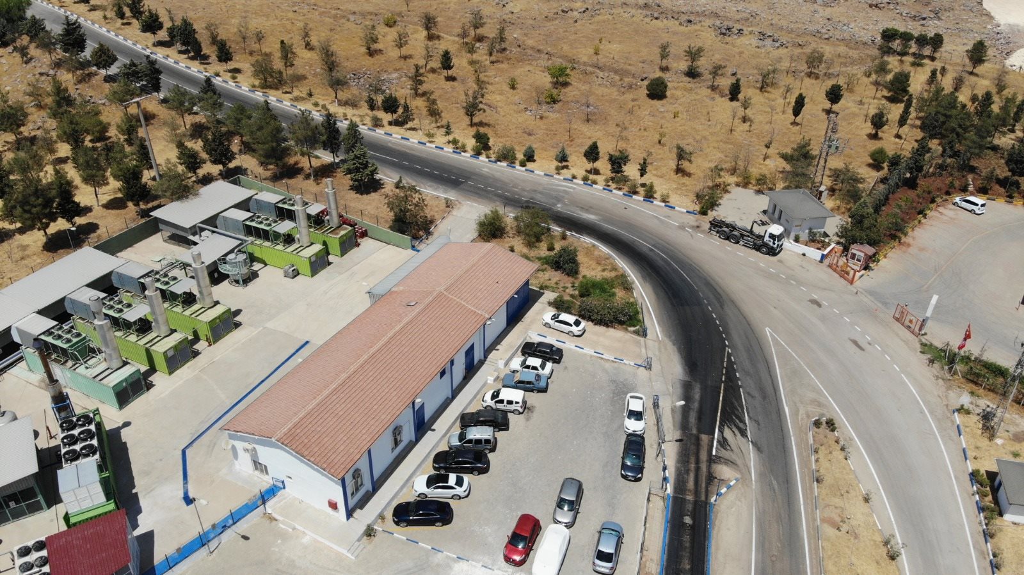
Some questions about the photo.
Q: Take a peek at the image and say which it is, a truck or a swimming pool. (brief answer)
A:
truck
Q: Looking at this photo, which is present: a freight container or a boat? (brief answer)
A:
freight container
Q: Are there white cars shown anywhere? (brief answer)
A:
Yes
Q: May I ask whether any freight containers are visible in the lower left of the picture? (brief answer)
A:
Yes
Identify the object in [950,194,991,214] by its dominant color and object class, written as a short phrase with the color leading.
white vehicle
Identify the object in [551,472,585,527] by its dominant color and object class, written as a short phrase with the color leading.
gray car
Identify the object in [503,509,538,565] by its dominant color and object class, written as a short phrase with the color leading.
red car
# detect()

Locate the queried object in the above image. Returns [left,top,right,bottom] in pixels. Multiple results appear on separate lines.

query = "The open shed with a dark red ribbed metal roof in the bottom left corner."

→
[43,507,143,575]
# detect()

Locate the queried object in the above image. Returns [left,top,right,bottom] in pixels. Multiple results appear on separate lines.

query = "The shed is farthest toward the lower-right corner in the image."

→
[987,458,1024,532]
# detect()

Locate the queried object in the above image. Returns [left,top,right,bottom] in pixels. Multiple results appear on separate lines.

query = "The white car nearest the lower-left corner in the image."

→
[411,471,472,500]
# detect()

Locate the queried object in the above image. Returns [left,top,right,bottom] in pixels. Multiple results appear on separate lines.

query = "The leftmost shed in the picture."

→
[0,415,48,519]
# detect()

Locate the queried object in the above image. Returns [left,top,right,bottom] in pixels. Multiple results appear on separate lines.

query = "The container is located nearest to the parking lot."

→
[57,404,123,525]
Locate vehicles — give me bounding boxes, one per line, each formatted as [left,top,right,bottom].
[390,497,455,528]
[541,313,588,337]
[503,509,538,565]
[950,194,991,214]
[519,340,566,362]
[713,219,788,256]
[500,369,550,393]
[593,516,626,574]
[624,393,648,436]
[551,472,585,527]
[432,447,491,476]
[411,471,472,500]
[479,384,530,415]
[621,433,648,481]
[445,422,498,453]
[458,407,510,431]
[511,354,558,377]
